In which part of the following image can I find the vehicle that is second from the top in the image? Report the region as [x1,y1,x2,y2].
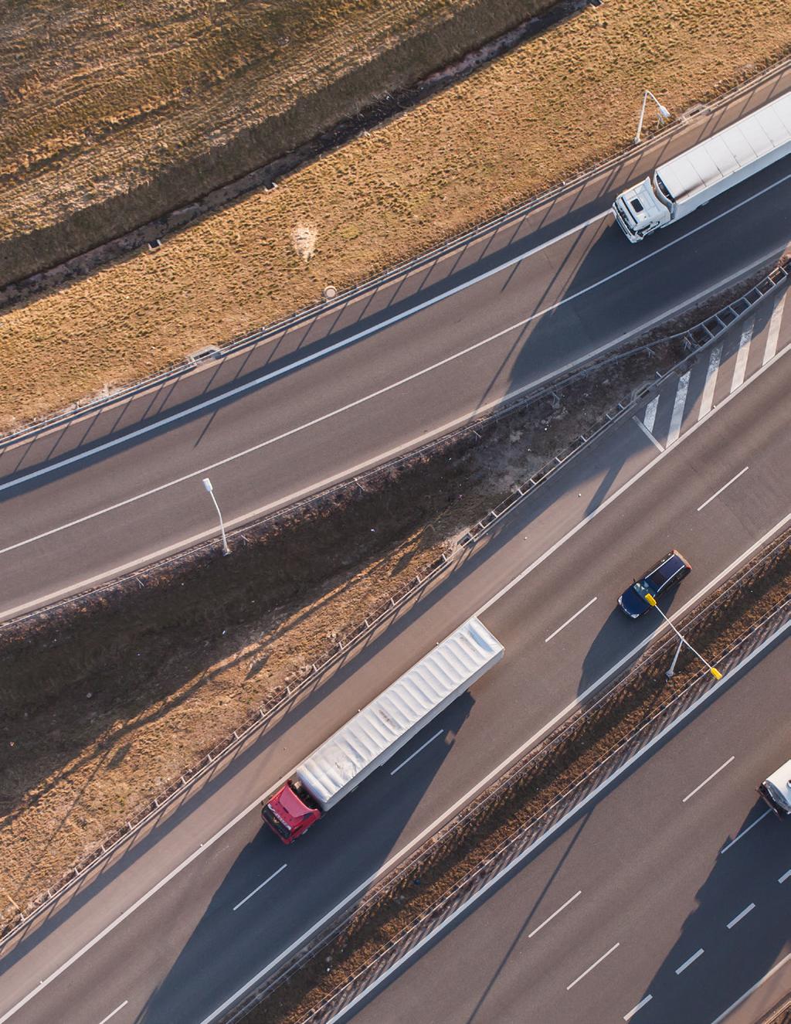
[617,549,692,617]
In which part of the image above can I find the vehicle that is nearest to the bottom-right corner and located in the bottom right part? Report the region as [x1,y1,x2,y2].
[756,756,791,820]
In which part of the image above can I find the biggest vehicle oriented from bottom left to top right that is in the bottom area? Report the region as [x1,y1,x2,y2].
[255,618,505,849]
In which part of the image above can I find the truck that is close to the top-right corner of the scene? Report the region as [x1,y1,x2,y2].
[611,94,791,246]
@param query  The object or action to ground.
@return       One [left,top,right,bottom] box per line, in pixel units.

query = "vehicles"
[611,94,791,246]
[255,618,505,849]
[617,549,692,617]
[756,756,791,820]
